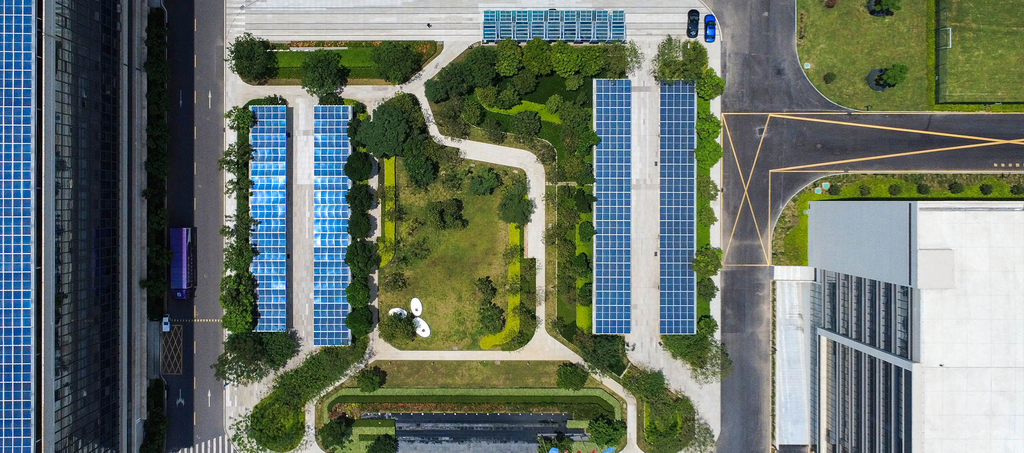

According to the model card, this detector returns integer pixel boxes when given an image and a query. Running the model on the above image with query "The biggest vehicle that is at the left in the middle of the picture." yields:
[170,227,194,299]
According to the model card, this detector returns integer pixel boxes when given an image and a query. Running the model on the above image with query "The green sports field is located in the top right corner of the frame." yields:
[948,0,1024,100]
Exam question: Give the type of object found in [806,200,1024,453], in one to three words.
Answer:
building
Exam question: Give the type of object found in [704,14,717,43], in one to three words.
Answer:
vehicle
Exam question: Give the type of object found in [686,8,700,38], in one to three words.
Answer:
car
